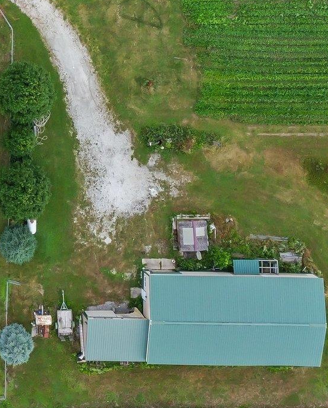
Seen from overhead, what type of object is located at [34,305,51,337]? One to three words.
work vehicle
